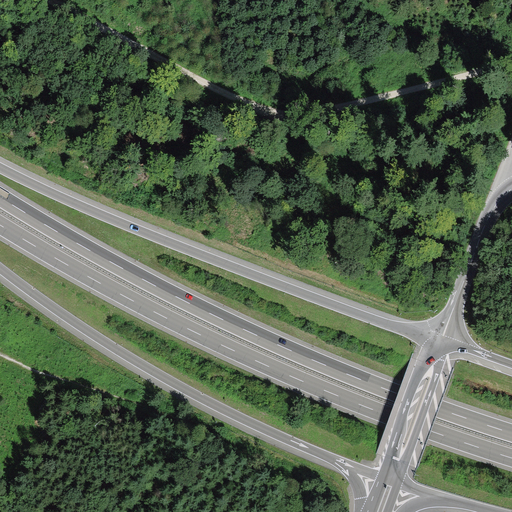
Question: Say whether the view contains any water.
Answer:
No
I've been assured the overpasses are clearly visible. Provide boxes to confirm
[375,346,456,476]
